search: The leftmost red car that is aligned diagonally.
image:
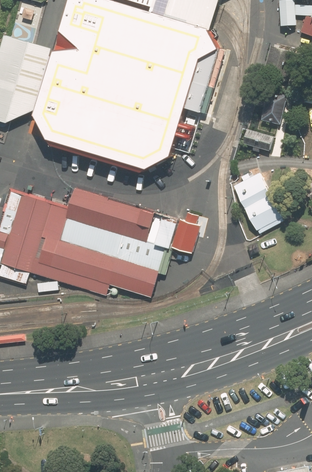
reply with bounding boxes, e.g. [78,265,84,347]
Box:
[197,398,212,414]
